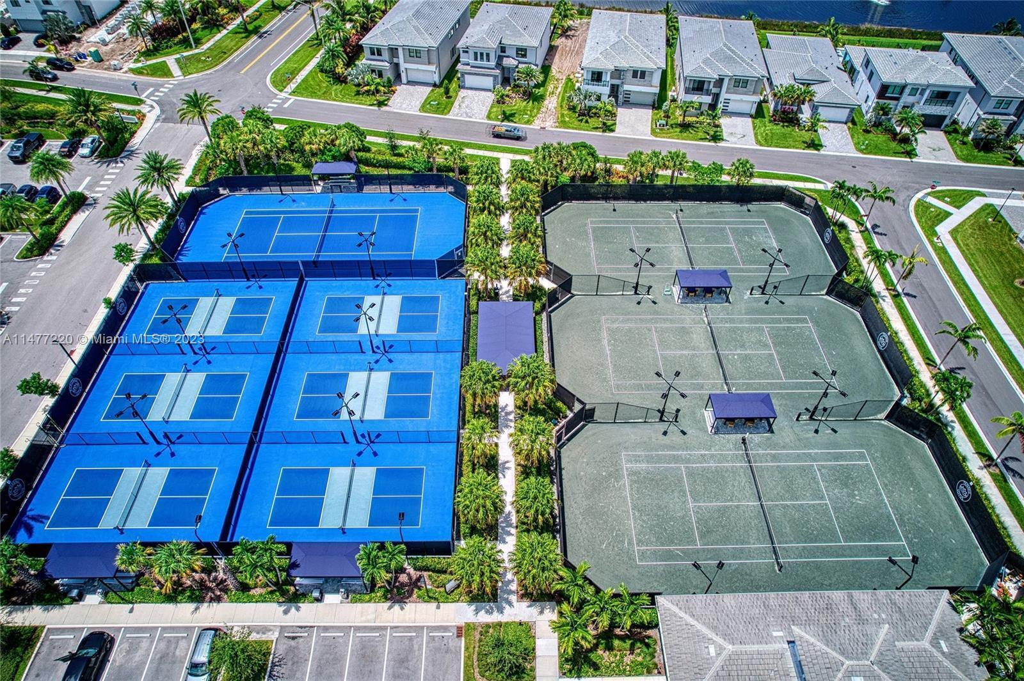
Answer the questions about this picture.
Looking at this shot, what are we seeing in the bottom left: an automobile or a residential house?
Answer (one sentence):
The feature located in the bottom left is an automobile.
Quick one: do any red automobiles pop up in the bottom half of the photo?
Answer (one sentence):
No, I see no red automobile in the bottom half of the photo.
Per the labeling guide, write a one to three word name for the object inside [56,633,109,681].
car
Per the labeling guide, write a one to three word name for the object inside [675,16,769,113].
house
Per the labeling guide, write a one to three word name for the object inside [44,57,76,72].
car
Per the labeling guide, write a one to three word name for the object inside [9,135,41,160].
truck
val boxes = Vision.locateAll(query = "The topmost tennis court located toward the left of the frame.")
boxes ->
[174,192,464,280]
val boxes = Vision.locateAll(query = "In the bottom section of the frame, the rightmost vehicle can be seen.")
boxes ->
[182,632,224,681]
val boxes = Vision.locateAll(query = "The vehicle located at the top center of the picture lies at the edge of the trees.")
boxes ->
[491,126,529,144]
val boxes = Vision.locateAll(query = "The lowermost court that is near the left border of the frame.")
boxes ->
[16,444,255,544]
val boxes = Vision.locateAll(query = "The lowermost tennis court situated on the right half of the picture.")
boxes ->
[561,420,990,594]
